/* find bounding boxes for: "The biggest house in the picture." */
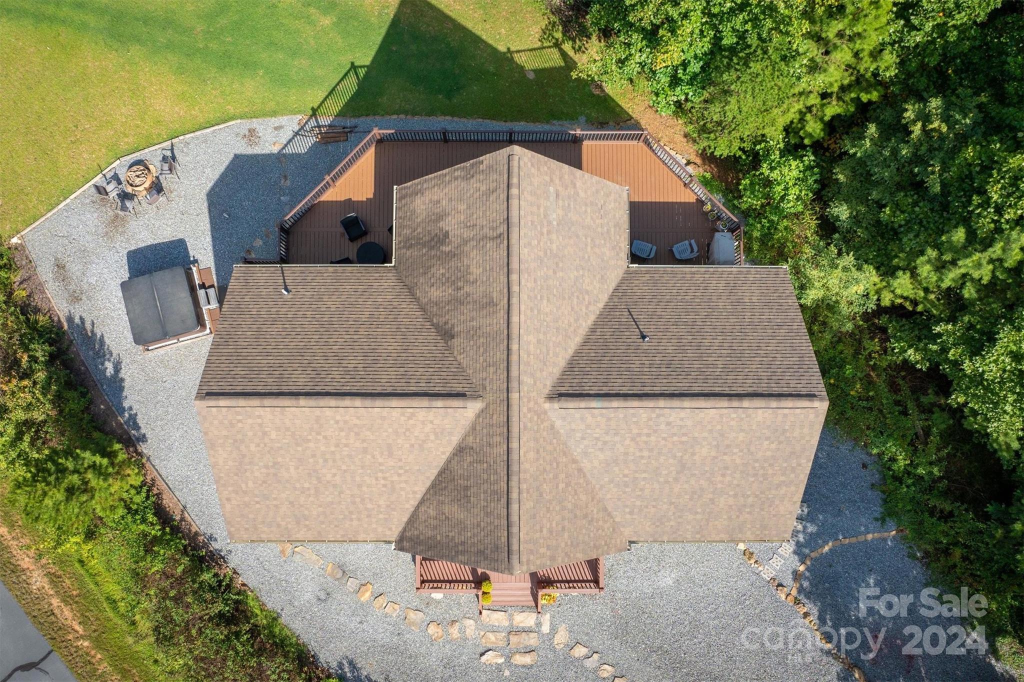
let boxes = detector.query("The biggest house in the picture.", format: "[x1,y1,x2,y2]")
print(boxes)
[194,145,830,577]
